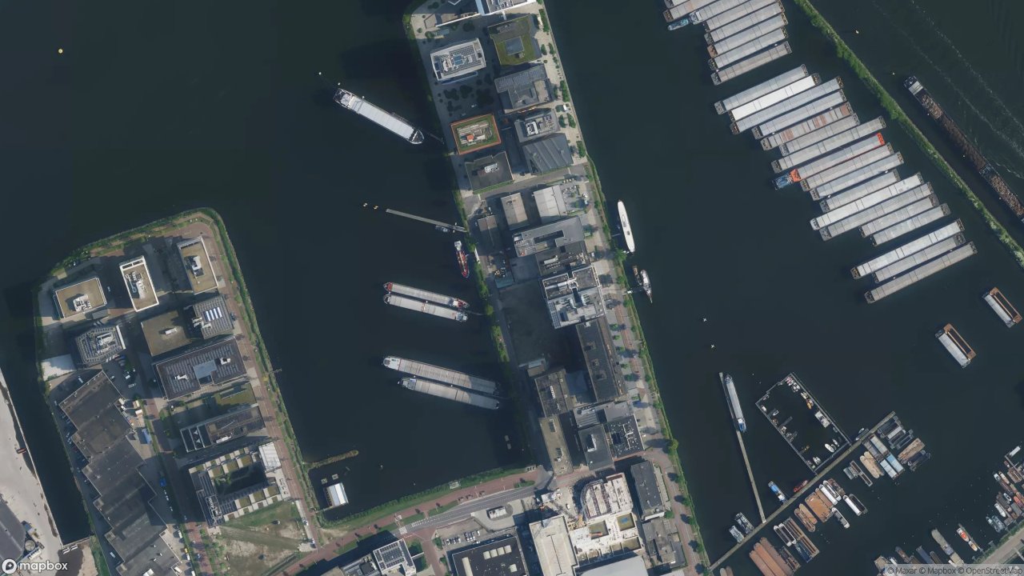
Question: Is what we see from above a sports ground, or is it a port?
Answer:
port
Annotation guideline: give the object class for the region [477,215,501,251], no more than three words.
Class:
shed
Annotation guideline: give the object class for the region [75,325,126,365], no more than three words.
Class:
building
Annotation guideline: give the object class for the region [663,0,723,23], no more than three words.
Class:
ship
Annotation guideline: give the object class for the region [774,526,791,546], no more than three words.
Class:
vessel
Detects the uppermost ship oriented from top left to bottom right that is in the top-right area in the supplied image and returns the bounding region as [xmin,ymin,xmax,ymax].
[906,77,991,172]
